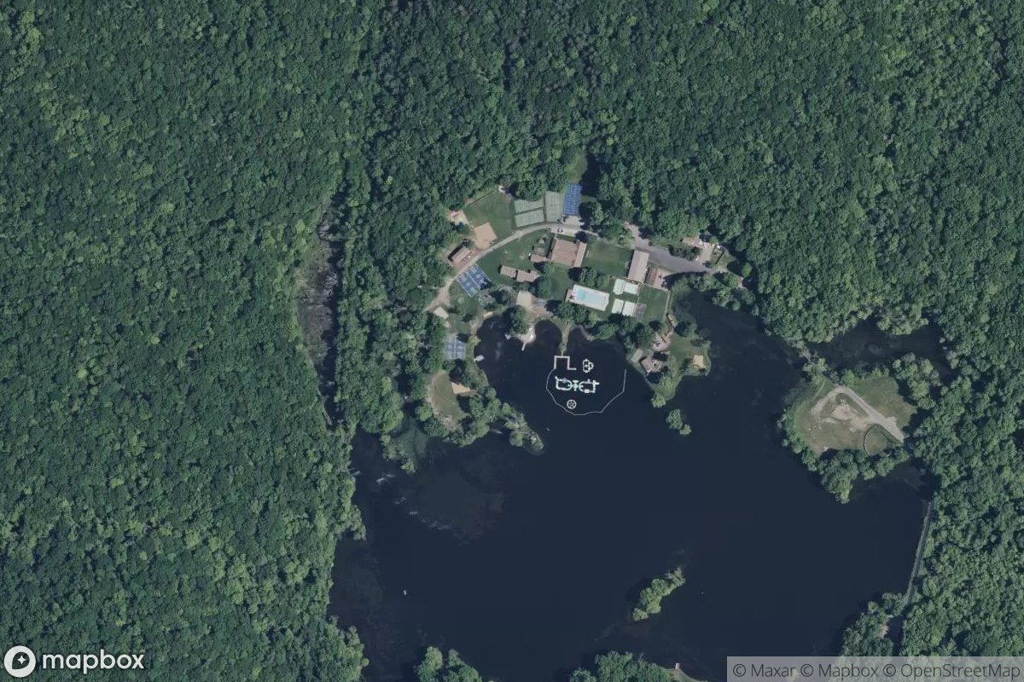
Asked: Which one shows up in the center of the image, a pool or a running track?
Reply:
pool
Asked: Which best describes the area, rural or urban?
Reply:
rural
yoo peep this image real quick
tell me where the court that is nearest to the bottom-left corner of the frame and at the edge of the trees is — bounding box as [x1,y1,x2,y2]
[446,333,466,359]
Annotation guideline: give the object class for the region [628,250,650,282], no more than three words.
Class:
building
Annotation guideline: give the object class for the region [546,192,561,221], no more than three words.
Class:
tennis court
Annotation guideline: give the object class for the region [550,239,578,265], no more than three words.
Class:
building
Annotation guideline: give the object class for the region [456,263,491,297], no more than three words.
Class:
basketball court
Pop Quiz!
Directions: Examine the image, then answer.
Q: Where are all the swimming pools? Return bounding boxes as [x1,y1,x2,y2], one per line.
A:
[571,285,609,311]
